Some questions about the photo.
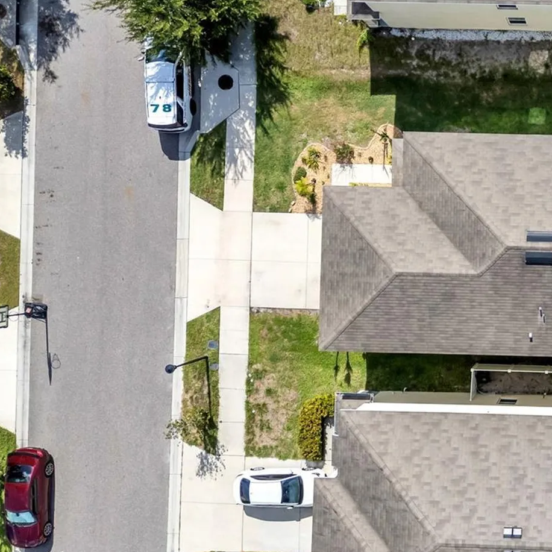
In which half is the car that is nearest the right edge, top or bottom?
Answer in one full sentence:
The bottom half of the photo is where the car that is nearest the right edge is.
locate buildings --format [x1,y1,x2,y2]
[318,130,552,356]
[347,0,552,40]
[311,381,552,552]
